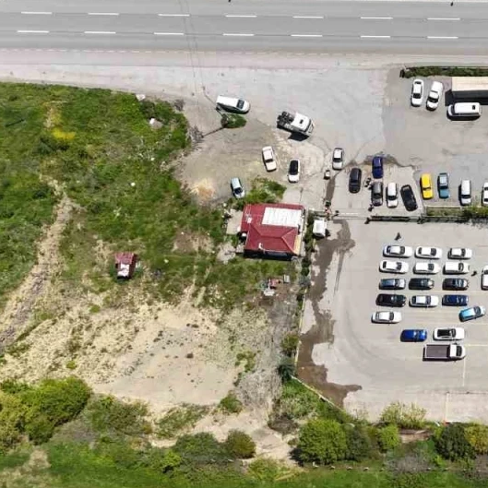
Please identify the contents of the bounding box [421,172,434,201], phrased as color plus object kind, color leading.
yellow vehicle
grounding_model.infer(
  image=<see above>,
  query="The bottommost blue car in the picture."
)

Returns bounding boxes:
[400,329,428,341]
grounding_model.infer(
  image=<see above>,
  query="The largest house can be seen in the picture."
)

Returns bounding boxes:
[241,205,307,255]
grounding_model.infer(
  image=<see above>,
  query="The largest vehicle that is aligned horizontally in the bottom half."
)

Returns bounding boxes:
[423,344,466,360]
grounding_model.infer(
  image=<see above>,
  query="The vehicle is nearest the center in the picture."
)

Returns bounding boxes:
[228,175,247,200]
